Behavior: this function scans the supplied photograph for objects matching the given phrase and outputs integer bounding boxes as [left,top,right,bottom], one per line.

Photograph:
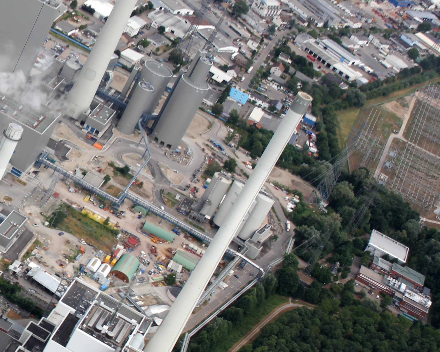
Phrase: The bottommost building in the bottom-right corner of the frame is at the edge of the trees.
[395,285,437,315]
